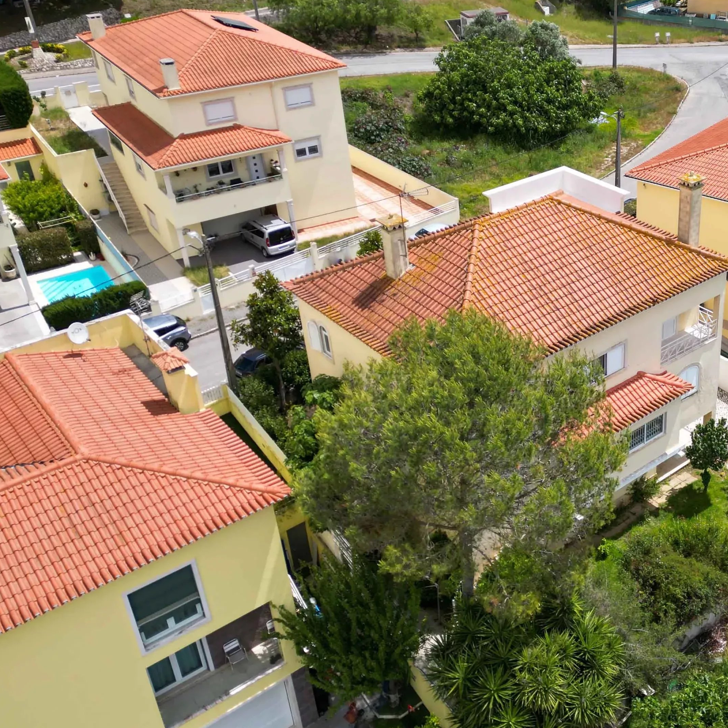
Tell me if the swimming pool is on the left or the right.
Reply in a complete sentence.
It is on the left.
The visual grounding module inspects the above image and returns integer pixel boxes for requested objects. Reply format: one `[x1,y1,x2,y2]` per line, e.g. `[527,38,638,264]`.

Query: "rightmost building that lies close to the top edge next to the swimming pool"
[82,0,355,267]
